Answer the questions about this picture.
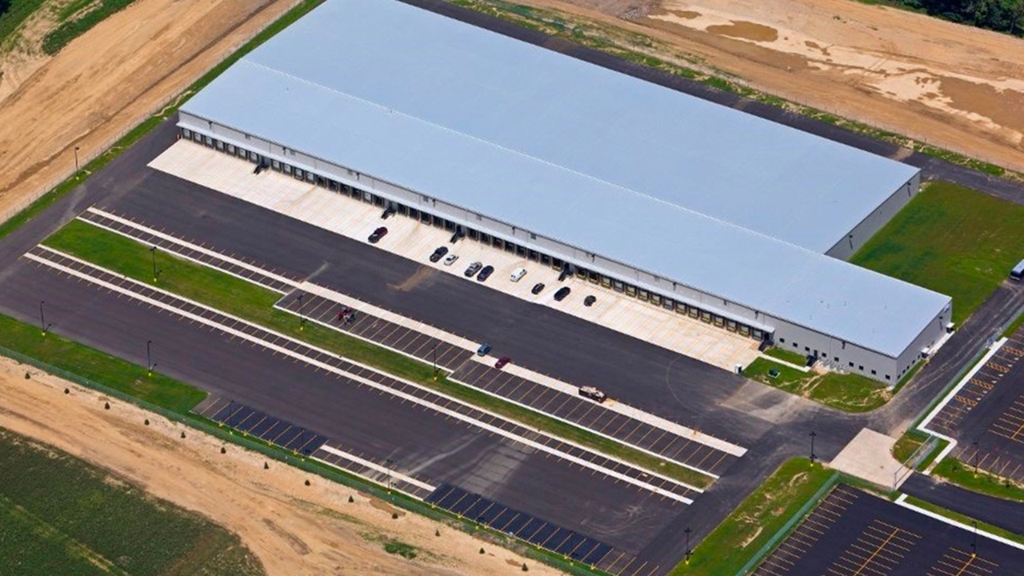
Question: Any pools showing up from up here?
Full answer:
No, this view has no pool in it.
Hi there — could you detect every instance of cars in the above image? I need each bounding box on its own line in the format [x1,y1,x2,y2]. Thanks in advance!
[554,284,571,299]
[466,259,482,274]
[475,339,493,354]
[370,225,386,239]
[477,263,494,278]
[430,244,446,258]
[443,253,458,264]
[531,282,544,292]
[494,355,511,367]
[582,294,596,305]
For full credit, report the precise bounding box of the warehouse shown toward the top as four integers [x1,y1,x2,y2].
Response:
[176,0,958,384]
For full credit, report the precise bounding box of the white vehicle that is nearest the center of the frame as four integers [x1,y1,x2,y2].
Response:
[510,267,525,280]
